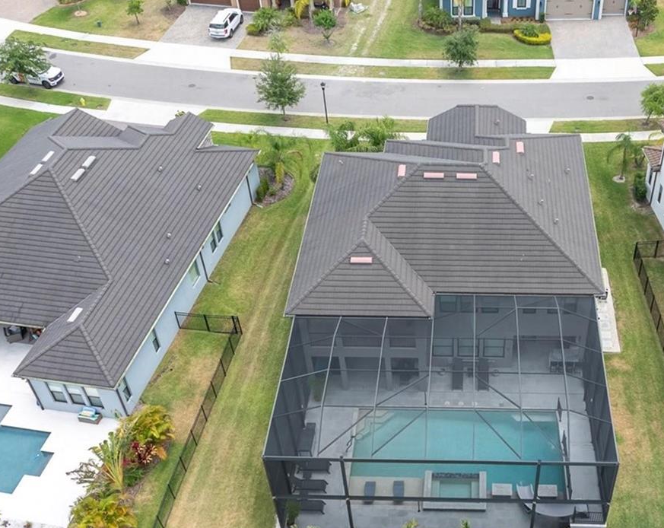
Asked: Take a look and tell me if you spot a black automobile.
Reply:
No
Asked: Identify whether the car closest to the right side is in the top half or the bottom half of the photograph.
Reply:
top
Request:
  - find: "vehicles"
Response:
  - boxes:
[209,10,247,36]
[0,63,68,90]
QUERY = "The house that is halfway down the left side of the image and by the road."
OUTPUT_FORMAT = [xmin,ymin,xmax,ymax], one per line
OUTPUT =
[0,101,271,420]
